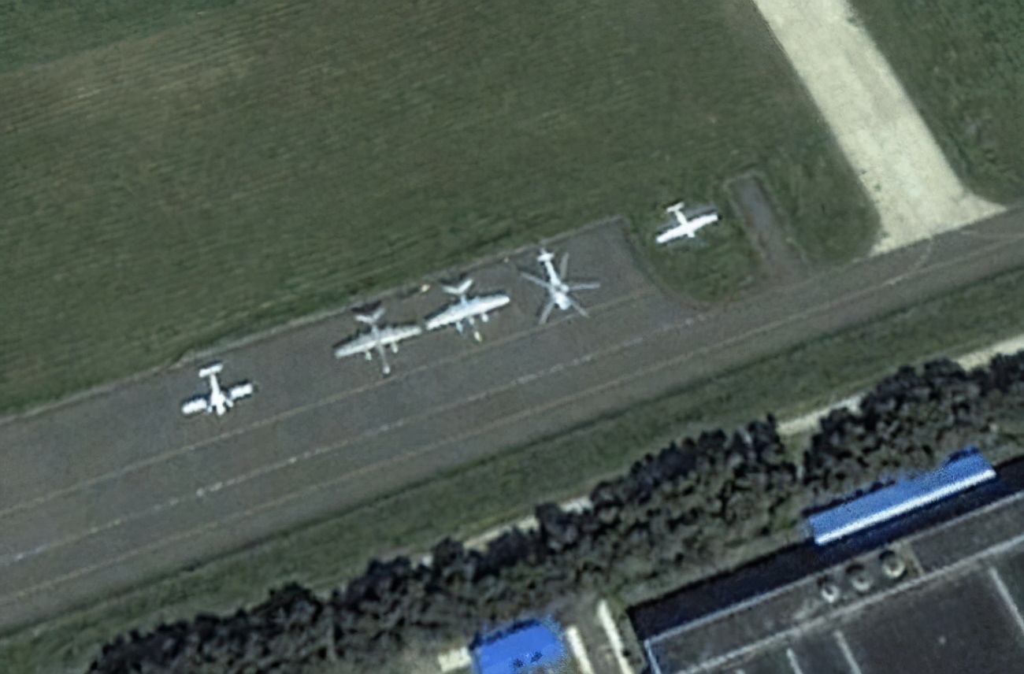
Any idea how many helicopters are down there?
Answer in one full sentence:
There is 1 helicopter in the image.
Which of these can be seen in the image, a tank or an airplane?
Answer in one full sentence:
It is an airplane that can be seen here.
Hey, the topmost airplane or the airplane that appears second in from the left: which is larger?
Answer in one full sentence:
Compared with the topmost airplane, the airplane that appears second in from the left is the larger one.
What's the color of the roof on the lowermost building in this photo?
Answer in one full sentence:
From above, the roof of the lowermost building looks blue.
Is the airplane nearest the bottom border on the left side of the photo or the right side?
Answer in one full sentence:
It is on the left.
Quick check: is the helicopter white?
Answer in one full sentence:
Yes, the helicopter is white.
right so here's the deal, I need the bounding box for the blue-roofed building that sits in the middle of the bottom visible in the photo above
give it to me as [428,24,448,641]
[476,621,577,674]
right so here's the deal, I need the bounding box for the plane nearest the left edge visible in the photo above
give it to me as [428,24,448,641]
[182,366,253,417]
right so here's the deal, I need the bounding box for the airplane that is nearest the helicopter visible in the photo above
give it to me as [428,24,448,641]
[424,275,509,342]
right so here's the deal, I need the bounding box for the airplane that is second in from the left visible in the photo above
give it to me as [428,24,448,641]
[333,305,419,374]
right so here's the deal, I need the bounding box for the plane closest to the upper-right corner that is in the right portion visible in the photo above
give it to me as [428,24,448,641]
[659,199,720,240]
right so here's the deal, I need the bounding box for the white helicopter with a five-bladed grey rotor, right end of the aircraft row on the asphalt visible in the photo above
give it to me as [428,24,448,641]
[521,248,600,324]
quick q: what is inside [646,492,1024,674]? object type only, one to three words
building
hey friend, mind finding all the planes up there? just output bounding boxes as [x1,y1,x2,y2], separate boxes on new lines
[659,199,720,240]
[424,275,509,342]
[182,366,253,417]
[333,305,419,374]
